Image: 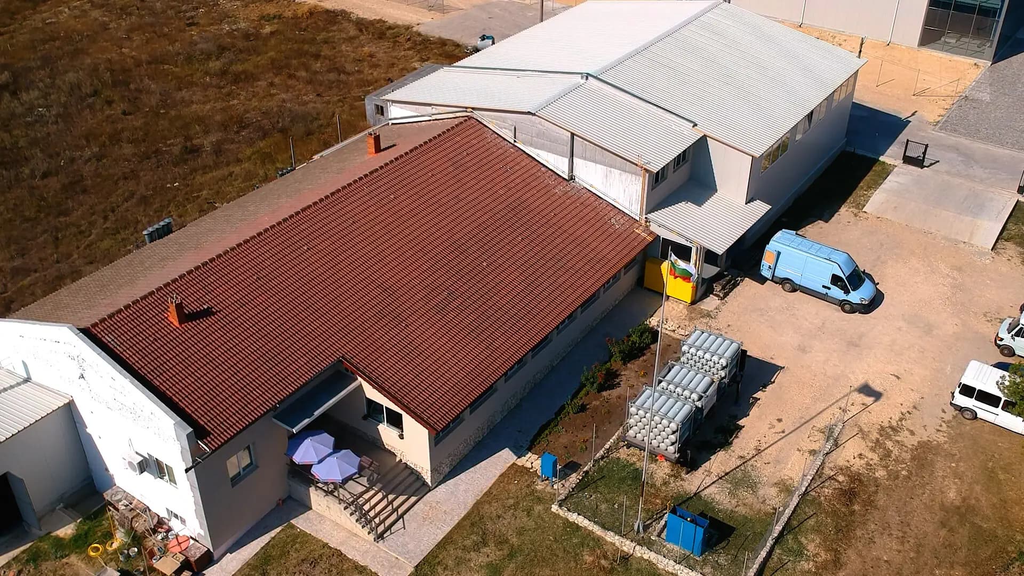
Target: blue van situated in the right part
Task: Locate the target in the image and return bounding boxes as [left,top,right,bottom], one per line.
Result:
[755,231,878,314]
